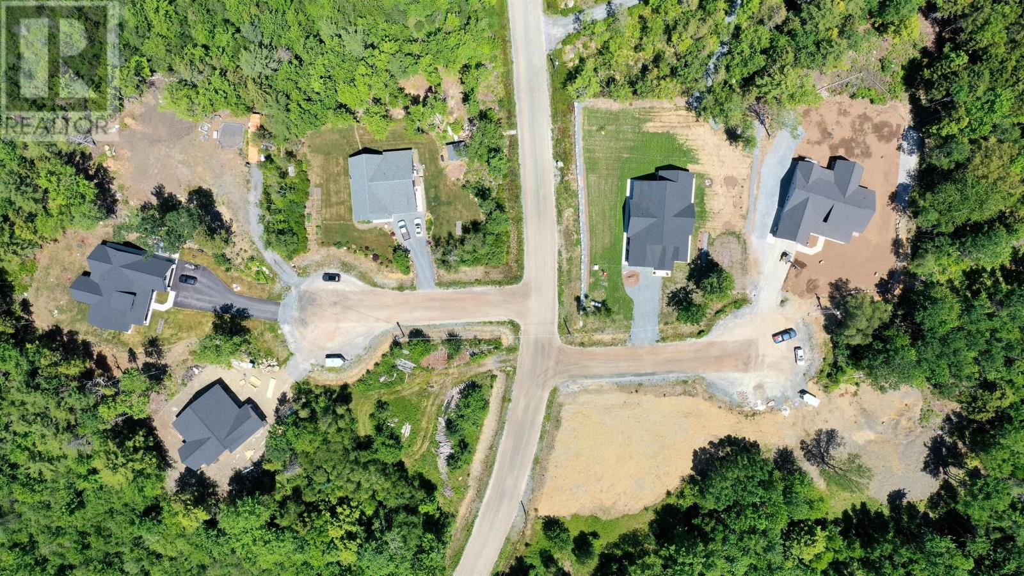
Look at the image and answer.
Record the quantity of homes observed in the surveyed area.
5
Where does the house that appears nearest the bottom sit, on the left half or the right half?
left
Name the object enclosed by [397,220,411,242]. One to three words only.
vehicle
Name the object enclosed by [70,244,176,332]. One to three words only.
house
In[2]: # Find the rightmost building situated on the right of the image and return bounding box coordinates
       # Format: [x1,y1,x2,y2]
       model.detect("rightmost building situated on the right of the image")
[773,159,875,247]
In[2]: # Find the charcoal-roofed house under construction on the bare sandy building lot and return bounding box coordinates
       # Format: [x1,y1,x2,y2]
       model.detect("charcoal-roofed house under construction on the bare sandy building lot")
[174,384,265,469]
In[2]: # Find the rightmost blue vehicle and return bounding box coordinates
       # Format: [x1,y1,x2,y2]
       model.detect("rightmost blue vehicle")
[772,329,797,344]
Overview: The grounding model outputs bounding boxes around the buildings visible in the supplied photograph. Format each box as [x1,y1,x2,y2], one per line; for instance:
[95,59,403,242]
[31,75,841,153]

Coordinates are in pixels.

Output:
[773,159,875,247]
[348,150,416,223]
[627,170,696,275]
[70,244,176,332]
[174,384,265,469]
[447,142,465,160]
